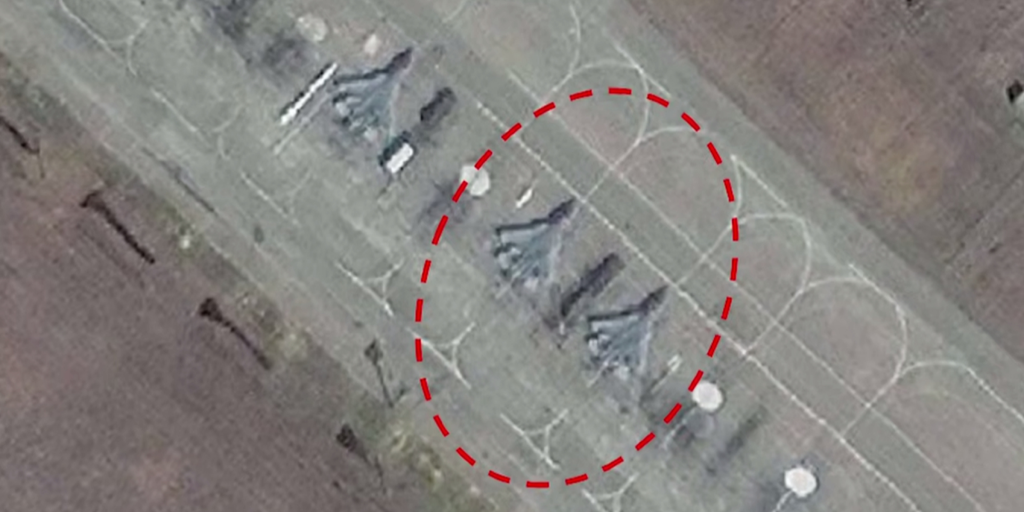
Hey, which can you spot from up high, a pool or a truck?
truck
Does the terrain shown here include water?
No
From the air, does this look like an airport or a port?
airport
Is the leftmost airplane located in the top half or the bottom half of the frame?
top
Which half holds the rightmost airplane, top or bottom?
bottom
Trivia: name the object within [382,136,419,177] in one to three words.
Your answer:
truck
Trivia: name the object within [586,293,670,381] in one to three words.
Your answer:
airplane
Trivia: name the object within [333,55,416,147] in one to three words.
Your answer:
airplane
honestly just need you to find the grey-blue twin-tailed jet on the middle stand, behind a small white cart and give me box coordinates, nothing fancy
[494,202,579,293]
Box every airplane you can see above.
[333,55,416,147]
[586,293,670,381]
[494,202,579,293]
